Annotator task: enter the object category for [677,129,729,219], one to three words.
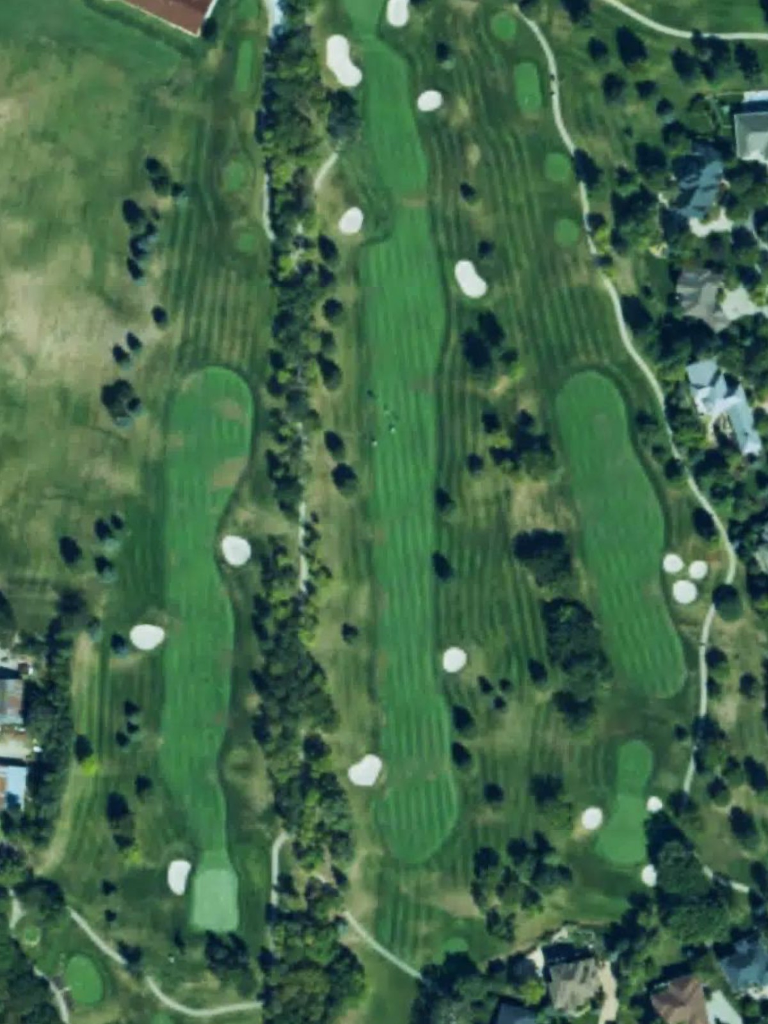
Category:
house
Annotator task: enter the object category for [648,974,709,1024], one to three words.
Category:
house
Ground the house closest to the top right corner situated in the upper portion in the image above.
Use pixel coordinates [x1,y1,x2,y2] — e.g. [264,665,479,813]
[734,111,768,159]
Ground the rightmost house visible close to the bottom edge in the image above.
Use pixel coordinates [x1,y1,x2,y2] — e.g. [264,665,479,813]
[722,943,768,999]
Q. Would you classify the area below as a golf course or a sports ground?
golf course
